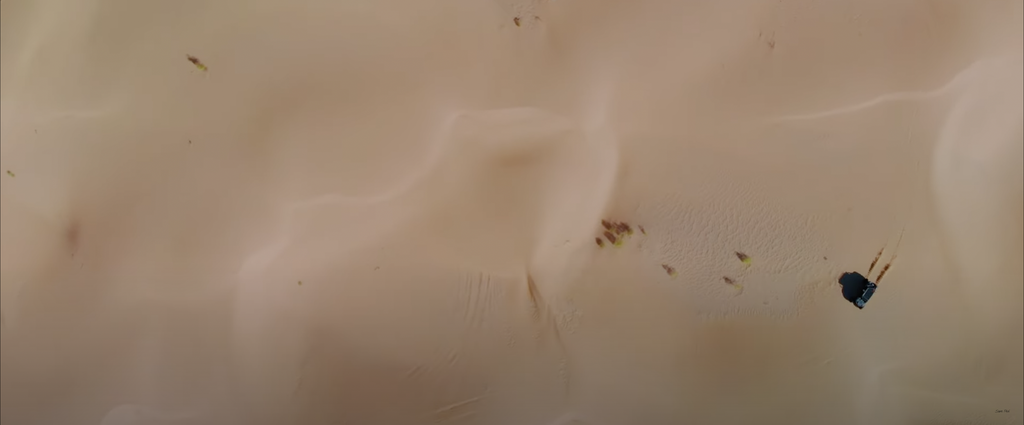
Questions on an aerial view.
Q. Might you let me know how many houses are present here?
0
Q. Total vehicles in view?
1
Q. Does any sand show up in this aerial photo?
Yes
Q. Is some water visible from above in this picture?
No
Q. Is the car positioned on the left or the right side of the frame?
right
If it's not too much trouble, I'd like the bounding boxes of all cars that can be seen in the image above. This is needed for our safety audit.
[853,280,879,309]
